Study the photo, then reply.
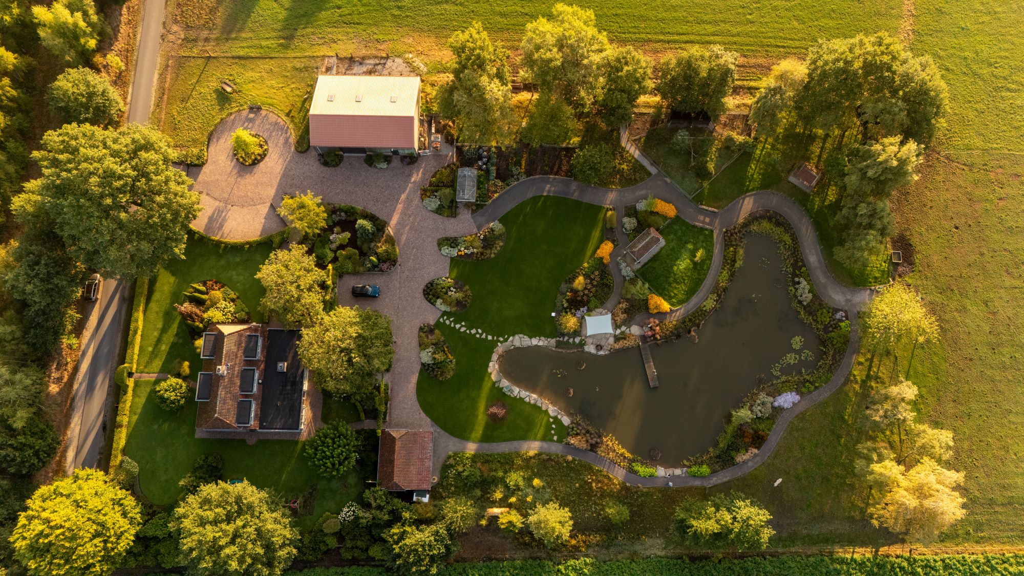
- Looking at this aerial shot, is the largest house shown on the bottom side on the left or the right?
left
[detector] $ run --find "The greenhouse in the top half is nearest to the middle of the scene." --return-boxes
[457,166,477,206]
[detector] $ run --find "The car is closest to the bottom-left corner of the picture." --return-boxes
[81,274,106,304]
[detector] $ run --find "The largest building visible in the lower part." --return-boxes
[194,327,309,433]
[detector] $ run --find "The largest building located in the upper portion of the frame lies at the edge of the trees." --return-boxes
[308,75,420,158]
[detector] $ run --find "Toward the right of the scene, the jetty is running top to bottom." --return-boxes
[641,338,659,386]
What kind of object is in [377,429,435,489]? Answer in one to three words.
building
